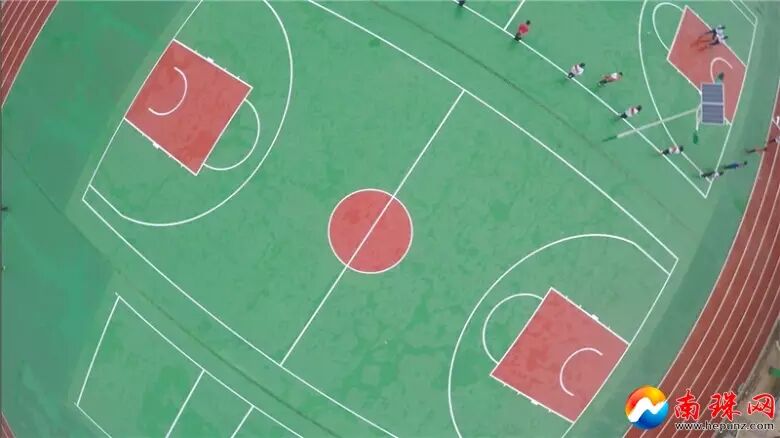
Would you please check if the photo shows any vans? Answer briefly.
No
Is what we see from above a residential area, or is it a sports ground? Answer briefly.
sports ground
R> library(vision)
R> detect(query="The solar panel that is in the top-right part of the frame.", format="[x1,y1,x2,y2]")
[702,83,724,124]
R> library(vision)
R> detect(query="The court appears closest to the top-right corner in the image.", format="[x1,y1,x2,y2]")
[378,0,768,241]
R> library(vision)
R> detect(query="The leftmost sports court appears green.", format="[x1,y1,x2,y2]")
[62,265,346,438]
